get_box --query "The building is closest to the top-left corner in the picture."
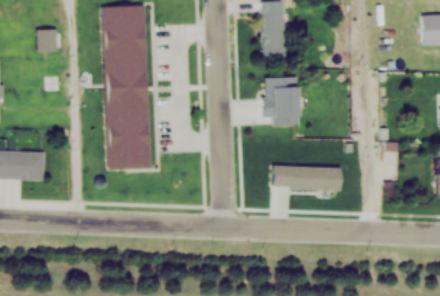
[36,30,58,52]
